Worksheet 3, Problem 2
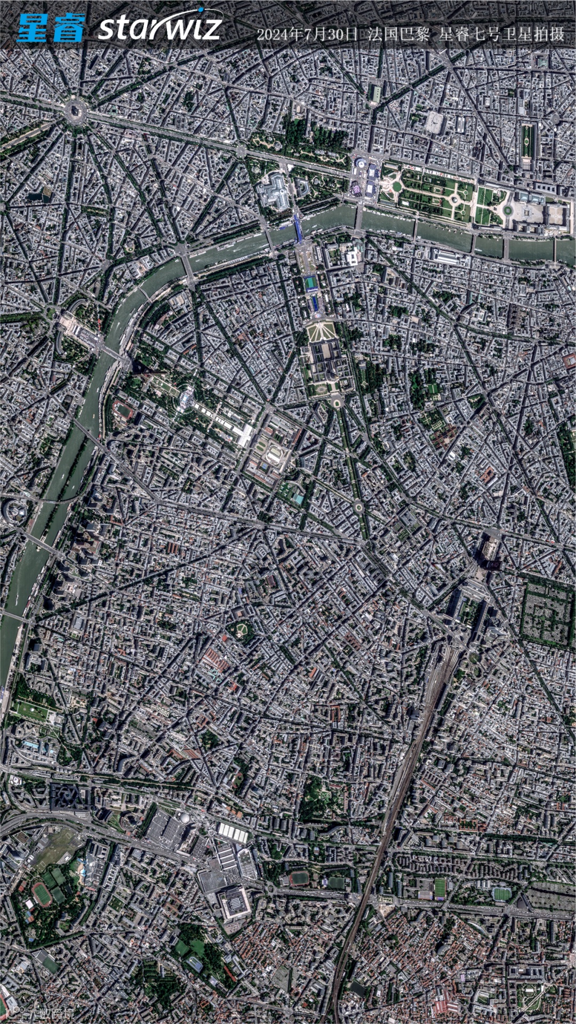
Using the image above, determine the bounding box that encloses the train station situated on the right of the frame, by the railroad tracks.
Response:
[438,579,490,645]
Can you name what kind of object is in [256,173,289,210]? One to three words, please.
building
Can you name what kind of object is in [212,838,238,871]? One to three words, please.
building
